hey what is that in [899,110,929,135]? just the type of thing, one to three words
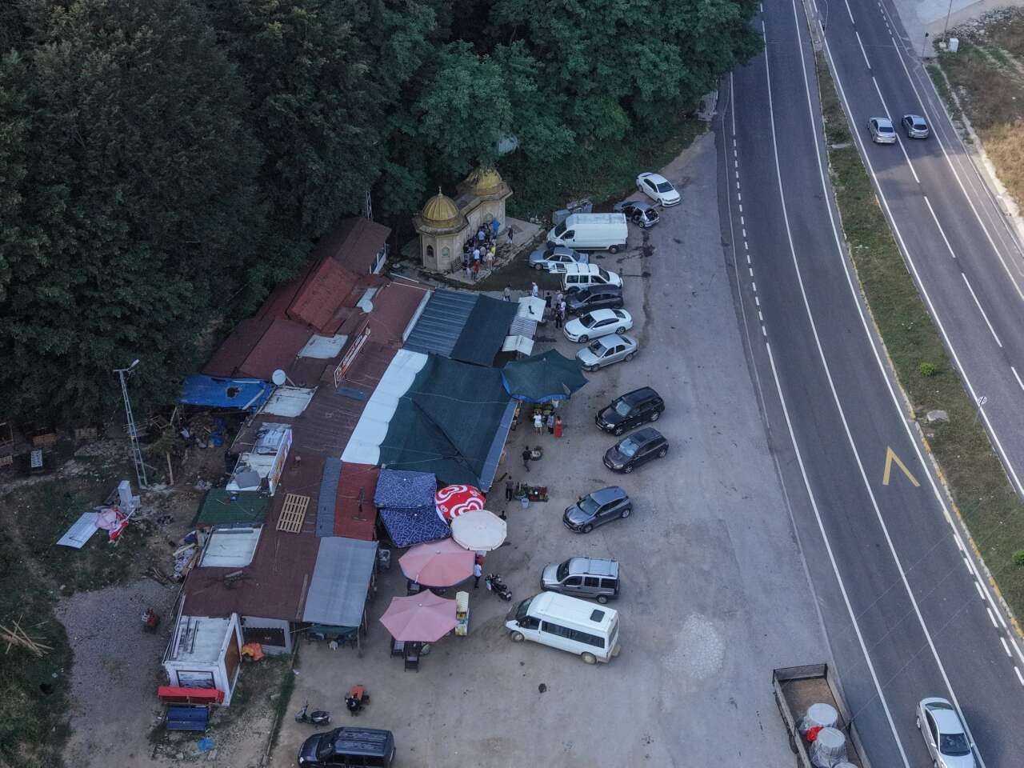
car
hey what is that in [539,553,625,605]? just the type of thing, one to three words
vehicle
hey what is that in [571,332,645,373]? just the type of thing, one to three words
car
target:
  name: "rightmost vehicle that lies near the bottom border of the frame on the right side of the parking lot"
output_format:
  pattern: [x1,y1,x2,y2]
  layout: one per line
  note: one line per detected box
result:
[911,688,984,768]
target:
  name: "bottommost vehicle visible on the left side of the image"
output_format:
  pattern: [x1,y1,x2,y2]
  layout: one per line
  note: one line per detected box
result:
[298,724,397,768]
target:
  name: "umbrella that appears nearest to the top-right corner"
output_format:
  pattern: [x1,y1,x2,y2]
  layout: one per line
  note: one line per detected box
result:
[501,349,588,404]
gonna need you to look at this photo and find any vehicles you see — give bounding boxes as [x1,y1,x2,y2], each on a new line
[562,306,635,344]
[592,384,669,437]
[485,568,510,601]
[773,663,866,768]
[560,482,638,534]
[571,332,645,373]
[298,724,397,768]
[544,208,628,253]
[863,113,895,141]
[601,422,674,475]
[539,553,625,605]
[545,258,621,293]
[633,171,683,206]
[911,688,984,768]
[291,695,332,724]
[899,110,929,135]
[502,588,624,665]
[564,277,630,317]
[607,195,669,229]
[525,242,591,271]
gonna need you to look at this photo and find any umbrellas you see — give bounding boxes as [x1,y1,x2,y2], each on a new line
[436,489,487,525]
[501,349,588,404]
[376,470,437,508]
[376,585,461,646]
[399,533,476,591]
[379,506,449,549]
[448,508,508,567]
